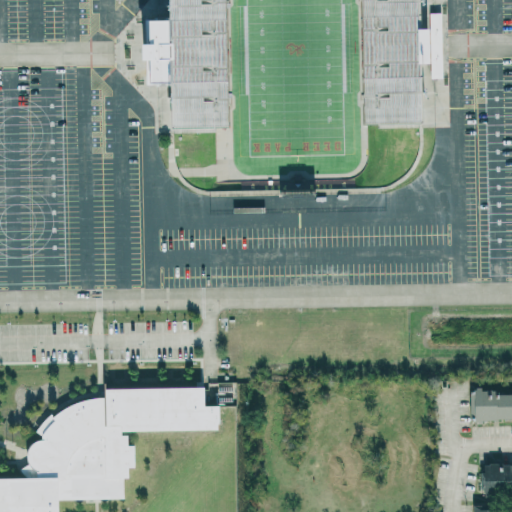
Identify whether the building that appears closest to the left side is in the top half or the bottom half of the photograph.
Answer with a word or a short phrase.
bottom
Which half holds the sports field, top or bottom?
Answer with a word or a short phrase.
top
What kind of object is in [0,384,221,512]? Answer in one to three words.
building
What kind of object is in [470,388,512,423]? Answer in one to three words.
building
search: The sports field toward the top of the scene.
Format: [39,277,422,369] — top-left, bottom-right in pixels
[230,0,362,175]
